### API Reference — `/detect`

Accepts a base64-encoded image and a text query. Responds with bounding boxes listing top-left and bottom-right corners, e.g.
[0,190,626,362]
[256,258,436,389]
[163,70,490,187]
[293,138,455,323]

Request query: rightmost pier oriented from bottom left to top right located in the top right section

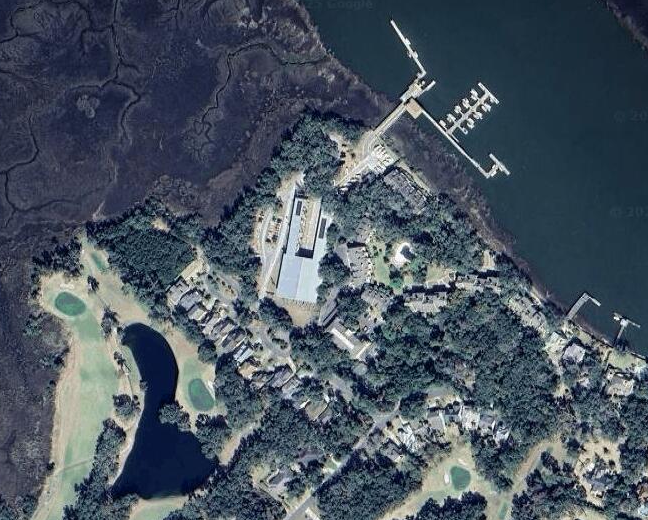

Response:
[445,82,499,142]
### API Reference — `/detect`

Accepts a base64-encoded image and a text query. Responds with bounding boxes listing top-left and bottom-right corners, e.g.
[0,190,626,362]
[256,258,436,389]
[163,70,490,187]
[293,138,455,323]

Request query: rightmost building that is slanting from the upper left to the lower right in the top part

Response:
[385,168,432,206]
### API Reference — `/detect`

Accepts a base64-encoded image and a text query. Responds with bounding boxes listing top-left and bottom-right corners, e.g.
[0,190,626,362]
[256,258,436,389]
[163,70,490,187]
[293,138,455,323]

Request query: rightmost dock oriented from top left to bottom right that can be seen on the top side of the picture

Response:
[421,107,509,177]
